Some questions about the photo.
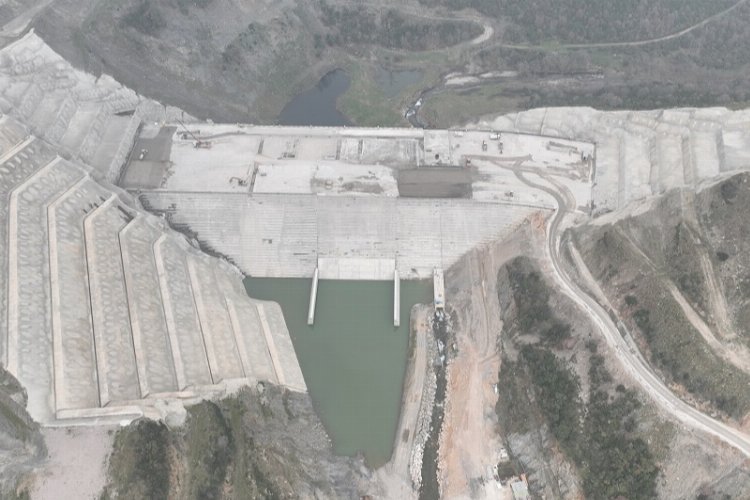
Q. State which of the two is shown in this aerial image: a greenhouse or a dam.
dam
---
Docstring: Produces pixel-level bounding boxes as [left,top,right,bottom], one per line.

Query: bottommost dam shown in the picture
[119,119,595,329]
